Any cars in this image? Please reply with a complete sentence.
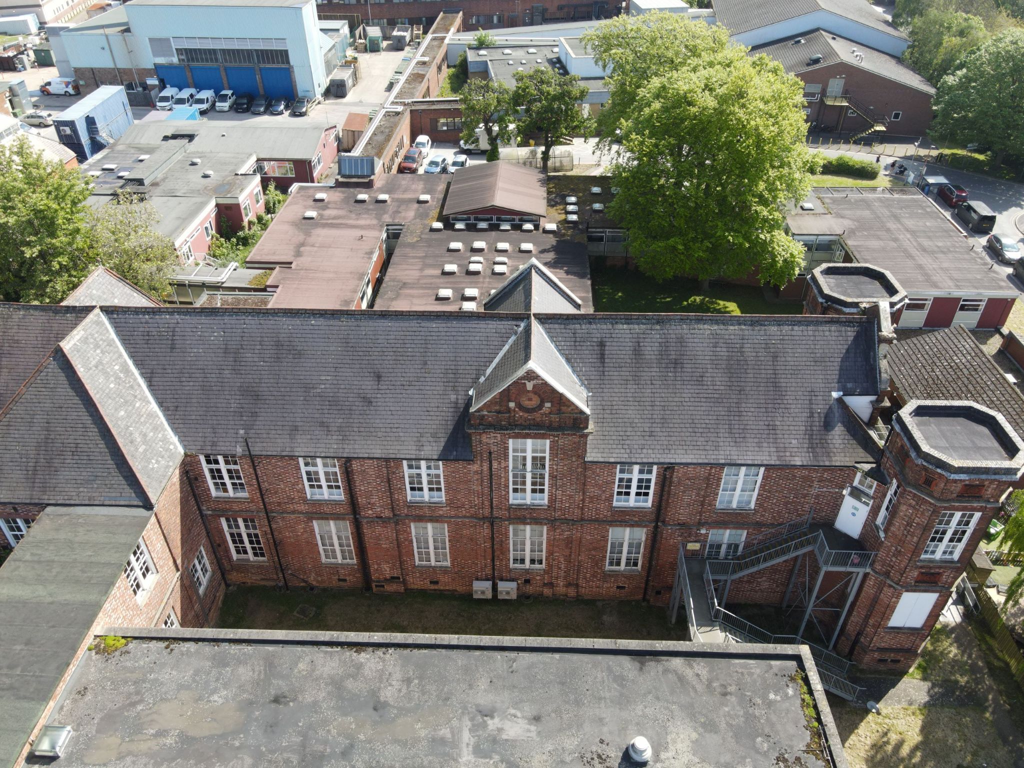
Yes, a car appears in the view.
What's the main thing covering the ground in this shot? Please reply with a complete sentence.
The largest share of the image is taken up by buildings.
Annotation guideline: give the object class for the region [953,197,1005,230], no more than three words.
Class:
van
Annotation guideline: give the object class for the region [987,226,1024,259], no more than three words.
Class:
car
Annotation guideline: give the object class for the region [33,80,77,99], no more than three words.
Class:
vehicle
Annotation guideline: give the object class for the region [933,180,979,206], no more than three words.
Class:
car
